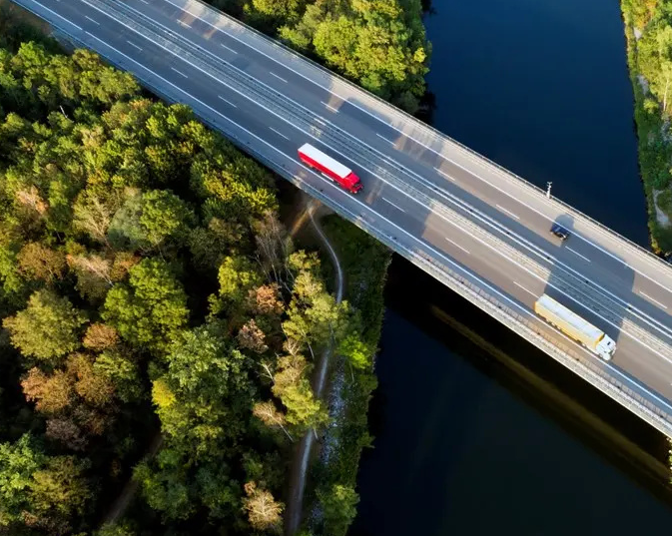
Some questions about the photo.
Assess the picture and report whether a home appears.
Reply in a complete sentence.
No, no home is visible in the view.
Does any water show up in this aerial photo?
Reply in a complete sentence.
Yes, there's water in this view.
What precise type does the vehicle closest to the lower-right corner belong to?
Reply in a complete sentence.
The vehicle closest to the lower-right corner appears to be a truck.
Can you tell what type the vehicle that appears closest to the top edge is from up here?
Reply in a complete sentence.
What you see as the vehicle that appears closest to the top edge is a truck.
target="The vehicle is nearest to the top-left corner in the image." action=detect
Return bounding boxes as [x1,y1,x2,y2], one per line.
[297,142,361,193]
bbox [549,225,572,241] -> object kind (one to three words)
car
